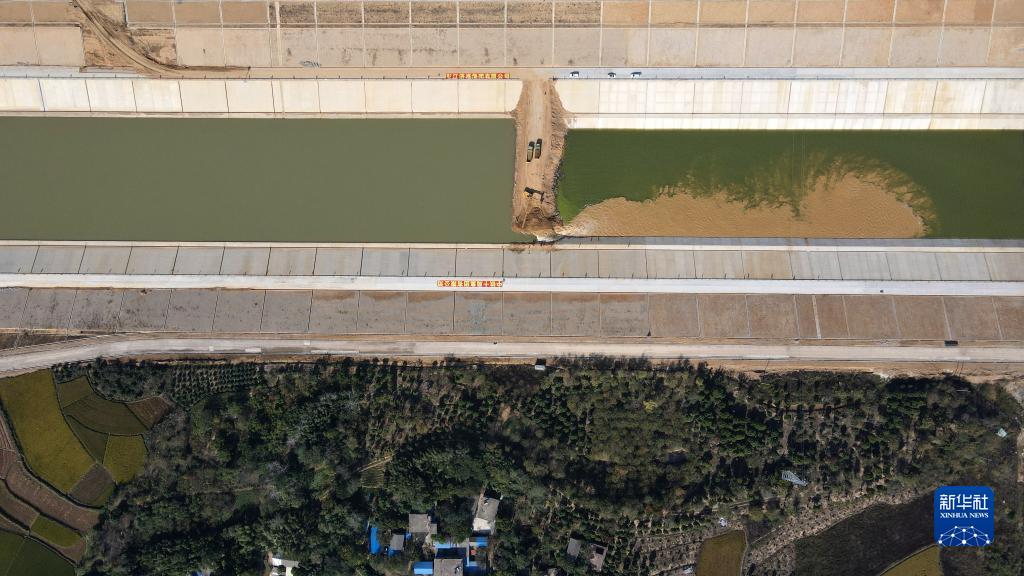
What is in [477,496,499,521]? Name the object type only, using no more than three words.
house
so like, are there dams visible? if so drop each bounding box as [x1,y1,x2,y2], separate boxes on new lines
[511,77,569,236]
